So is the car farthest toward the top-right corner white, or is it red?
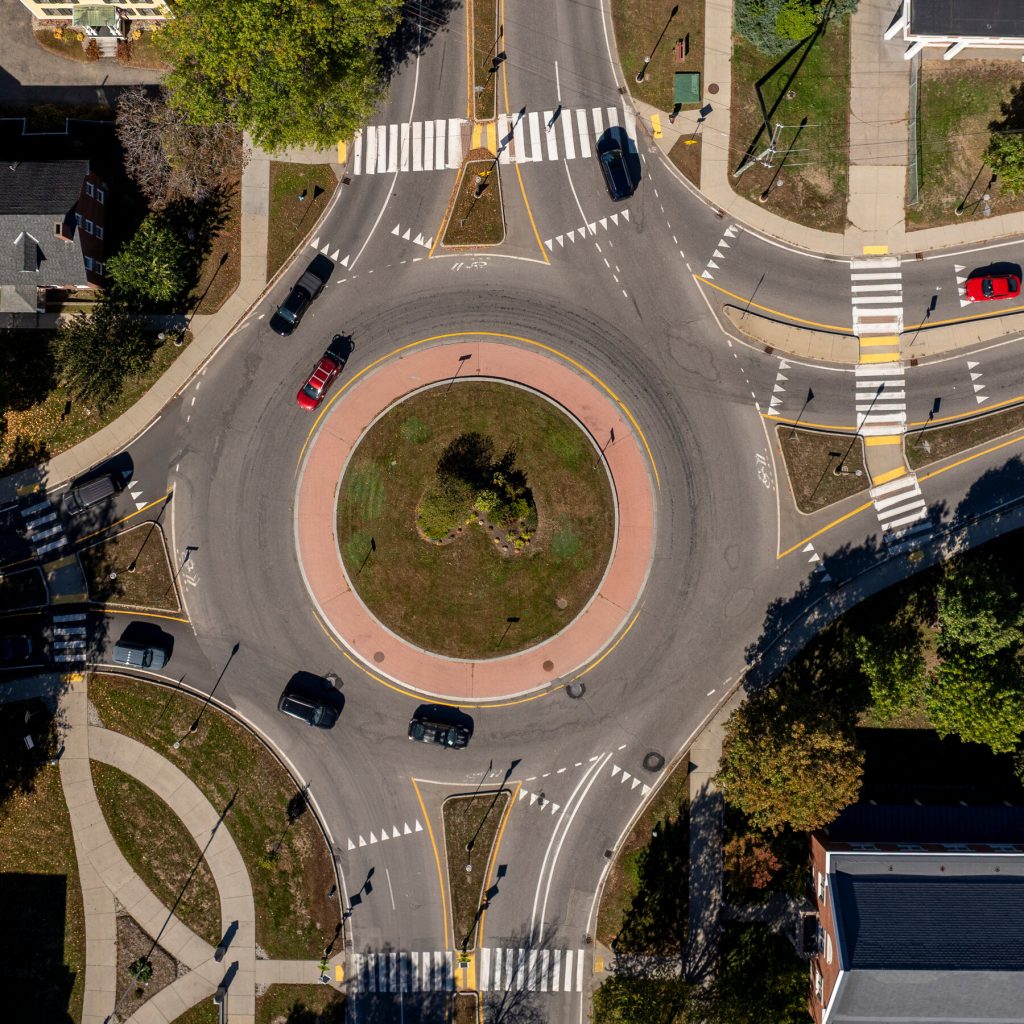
red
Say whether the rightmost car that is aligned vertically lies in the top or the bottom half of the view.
top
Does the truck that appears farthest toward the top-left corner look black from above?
Yes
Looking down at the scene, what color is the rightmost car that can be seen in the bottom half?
black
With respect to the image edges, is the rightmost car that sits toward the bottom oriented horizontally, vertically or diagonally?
horizontally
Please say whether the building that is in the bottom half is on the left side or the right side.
right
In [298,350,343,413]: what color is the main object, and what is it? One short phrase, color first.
red car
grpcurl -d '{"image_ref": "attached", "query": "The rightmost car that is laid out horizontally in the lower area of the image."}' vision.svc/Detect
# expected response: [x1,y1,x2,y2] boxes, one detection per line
[409,718,469,750]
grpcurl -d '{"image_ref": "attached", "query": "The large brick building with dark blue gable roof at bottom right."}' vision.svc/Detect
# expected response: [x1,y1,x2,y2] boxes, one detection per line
[791,798,1024,1024]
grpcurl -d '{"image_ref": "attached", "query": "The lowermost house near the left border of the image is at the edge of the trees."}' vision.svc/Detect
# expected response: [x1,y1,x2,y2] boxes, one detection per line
[0,158,107,315]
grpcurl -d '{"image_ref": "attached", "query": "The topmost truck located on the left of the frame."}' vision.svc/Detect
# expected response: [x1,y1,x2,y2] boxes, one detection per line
[272,271,327,341]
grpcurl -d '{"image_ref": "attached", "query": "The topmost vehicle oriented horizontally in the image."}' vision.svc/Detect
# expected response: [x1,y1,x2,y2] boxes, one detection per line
[962,273,1021,302]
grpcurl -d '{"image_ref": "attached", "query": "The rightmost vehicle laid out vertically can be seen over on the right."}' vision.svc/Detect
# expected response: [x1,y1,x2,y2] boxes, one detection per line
[595,135,634,202]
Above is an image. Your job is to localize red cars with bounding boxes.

[298,350,343,413]
[962,273,1021,302]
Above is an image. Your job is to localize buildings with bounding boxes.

[16,0,175,57]
[0,158,107,315]
[885,0,1024,60]
[791,798,1024,1024]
